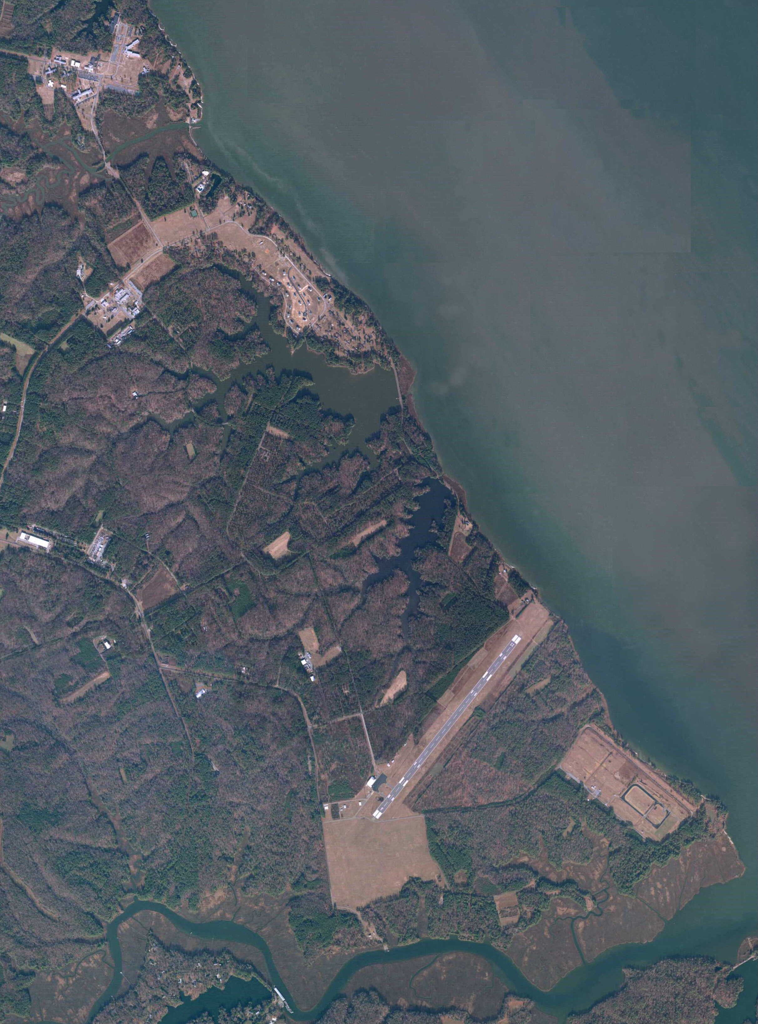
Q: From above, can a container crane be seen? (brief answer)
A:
No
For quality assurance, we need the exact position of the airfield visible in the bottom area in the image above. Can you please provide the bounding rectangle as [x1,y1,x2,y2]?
[356,602,553,821]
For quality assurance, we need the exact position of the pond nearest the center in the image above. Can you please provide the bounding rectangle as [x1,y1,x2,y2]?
[356,477,457,640]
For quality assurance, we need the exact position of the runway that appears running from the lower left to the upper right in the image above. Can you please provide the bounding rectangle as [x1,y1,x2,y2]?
[372,633,523,820]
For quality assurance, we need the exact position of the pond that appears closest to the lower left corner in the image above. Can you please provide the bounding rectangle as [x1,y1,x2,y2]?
[158,975,272,1024]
